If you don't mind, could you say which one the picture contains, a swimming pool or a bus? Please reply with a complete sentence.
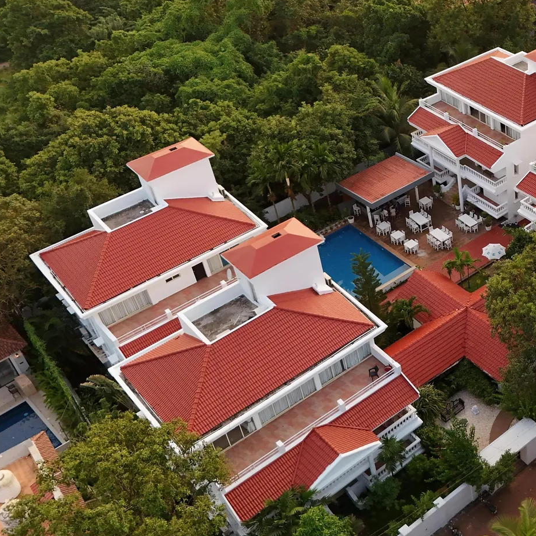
Visible in the photo is a swimming pool.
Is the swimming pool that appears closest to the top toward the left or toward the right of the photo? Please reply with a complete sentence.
The swimming pool that appears closest to the top is on the right side of the image.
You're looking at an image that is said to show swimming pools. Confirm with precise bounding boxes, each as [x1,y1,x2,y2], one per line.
[319,224,408,298]
[0,405,44,448]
